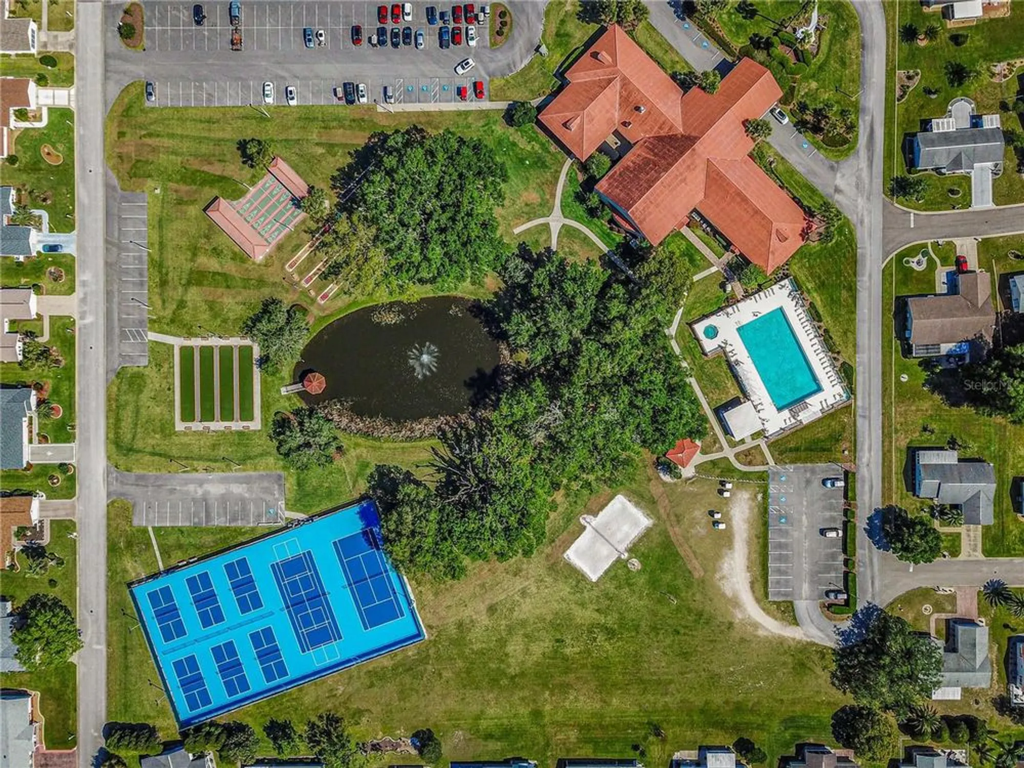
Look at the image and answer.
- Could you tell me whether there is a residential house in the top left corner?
Yes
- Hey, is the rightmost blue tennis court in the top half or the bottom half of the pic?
bottom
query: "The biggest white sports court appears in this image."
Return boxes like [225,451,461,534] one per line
[563,494,654,582]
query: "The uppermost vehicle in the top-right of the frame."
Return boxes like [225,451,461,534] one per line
[771,106,789,125]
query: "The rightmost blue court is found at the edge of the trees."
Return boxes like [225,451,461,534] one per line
[332,527,405,631]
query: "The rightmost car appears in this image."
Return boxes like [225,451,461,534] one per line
[956,254,968,274]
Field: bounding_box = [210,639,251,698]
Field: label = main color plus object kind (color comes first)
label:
blue sports court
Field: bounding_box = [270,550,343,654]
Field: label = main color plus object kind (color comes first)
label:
blue tennis court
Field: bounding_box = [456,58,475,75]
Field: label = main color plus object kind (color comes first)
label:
white car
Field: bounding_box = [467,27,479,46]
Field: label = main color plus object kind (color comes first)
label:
white vehicle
